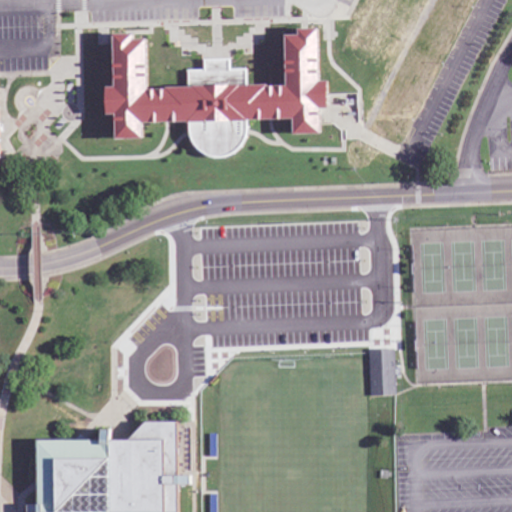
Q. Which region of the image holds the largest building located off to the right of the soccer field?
bottom right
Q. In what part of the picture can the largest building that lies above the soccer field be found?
top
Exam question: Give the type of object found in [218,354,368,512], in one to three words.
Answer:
soccer field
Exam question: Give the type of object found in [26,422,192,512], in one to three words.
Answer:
building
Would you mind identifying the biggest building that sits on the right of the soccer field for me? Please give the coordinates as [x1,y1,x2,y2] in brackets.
[370,349,396,396]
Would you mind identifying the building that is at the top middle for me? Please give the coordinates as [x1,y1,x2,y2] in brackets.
[103,28,330,158]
